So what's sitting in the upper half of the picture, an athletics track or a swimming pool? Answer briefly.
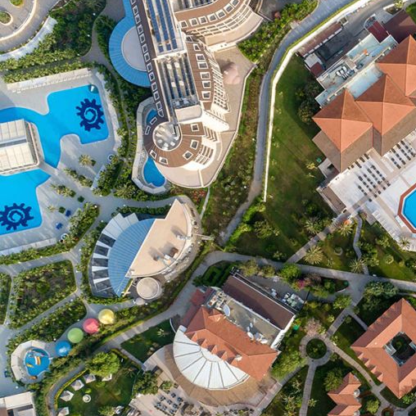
swimming pool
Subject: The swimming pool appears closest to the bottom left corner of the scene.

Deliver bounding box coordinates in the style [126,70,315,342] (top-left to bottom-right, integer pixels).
[23,346,52,376]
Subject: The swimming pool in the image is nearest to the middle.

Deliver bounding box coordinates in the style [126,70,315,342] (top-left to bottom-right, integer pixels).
[142,155,166,188]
